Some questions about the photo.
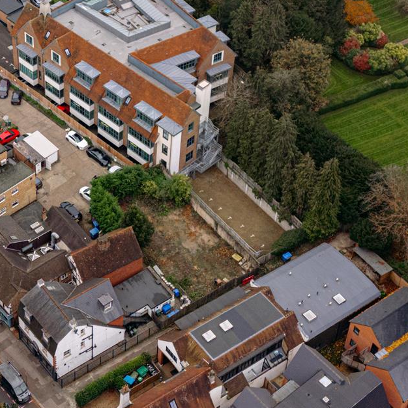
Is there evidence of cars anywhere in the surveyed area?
Yes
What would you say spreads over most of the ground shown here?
buildings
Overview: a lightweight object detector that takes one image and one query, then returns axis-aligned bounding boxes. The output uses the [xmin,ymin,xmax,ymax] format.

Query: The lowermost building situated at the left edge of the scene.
[14,268,124,380]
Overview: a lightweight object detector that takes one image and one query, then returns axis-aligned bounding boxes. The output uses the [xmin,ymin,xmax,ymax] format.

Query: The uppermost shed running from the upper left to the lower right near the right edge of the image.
[346,238,396,285]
